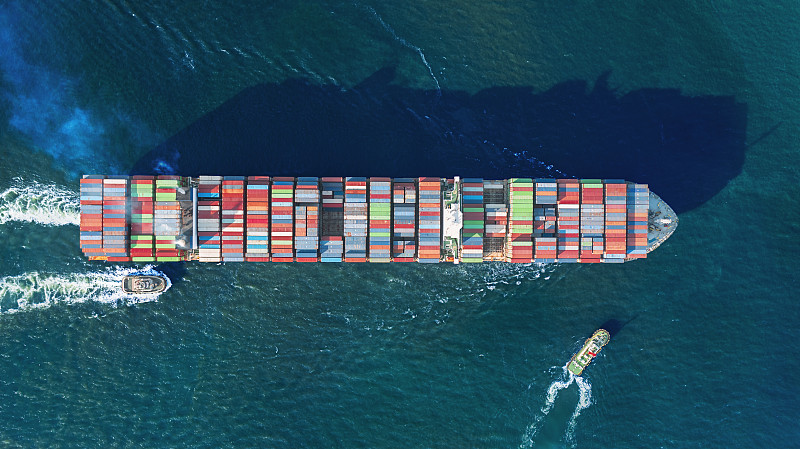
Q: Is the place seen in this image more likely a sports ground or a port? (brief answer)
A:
port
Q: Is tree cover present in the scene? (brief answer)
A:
No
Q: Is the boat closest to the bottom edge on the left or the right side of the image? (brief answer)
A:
right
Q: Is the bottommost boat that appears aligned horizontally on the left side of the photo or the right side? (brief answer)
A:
left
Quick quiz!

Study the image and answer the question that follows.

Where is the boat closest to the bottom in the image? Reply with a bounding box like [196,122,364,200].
[567,328,609,378]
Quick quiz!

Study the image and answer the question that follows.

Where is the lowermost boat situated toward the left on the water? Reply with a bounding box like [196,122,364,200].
[123,274,169,296]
